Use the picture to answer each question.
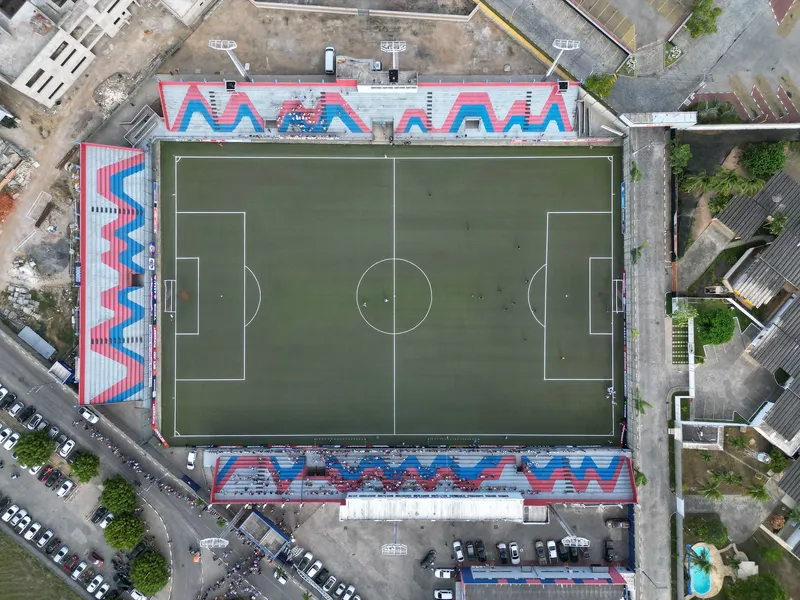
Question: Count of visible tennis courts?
none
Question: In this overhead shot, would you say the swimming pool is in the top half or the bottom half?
bottom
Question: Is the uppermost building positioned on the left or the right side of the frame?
left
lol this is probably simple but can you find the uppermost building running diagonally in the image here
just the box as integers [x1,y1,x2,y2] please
[12,0,142,110]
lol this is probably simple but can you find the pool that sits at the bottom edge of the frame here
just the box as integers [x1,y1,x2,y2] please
[687,542,724,600]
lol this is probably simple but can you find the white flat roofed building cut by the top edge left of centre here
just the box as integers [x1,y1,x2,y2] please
[161,0,217,30]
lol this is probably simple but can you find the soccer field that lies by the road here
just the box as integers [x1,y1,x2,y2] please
[159,142,622,447]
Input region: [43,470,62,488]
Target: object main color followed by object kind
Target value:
black car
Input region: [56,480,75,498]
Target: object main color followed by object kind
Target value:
white car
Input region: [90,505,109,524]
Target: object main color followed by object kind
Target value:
black car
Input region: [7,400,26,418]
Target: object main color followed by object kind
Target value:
white car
